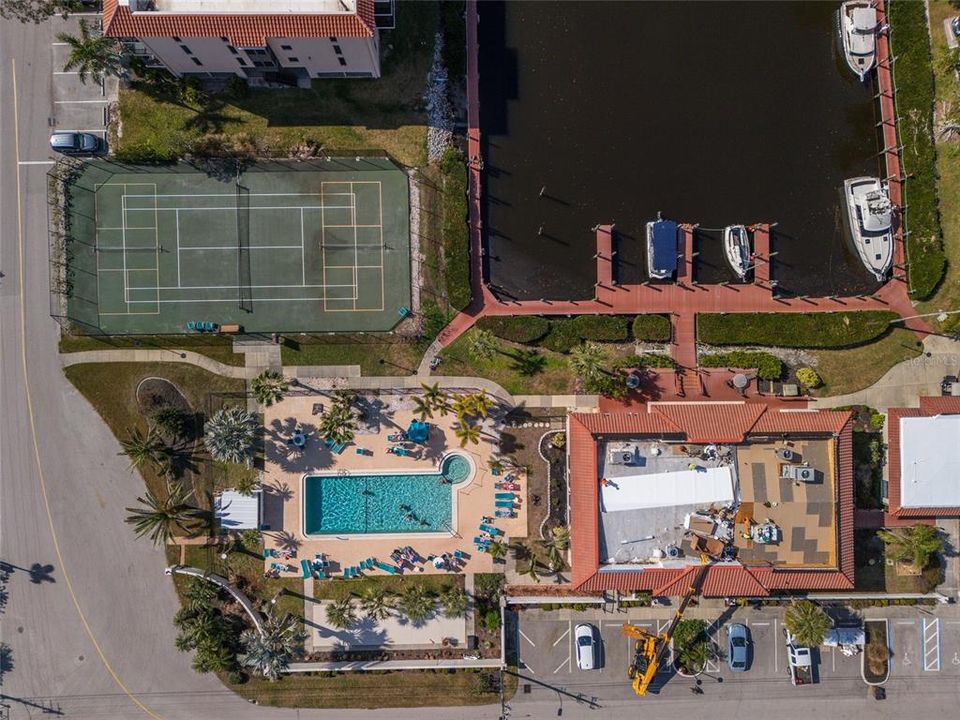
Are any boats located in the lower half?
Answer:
No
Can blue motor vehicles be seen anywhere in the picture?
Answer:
Yes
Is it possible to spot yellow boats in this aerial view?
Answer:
No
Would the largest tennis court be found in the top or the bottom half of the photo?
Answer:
top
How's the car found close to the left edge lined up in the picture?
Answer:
from side to side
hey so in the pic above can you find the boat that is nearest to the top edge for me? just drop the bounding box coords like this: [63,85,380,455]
[832,0,878,82]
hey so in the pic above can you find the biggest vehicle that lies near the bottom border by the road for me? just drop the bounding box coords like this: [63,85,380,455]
[610,541,713,696]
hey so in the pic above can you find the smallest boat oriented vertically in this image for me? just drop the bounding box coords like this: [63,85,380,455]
[726,224,753,281]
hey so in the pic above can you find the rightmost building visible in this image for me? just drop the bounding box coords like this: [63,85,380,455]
[880,396,960,518]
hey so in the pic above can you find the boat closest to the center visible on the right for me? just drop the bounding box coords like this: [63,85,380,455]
[647,216,681,279]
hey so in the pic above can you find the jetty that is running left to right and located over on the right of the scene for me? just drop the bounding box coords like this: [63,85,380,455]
[501,278,933,340]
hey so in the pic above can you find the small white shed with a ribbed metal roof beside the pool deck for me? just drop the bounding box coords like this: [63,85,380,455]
[214,489,264,530]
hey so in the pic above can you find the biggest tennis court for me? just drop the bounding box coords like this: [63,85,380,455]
[67,159,411,333]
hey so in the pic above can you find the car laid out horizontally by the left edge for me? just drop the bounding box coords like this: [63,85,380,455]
[47,128,100,153]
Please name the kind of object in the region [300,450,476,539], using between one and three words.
swimming pool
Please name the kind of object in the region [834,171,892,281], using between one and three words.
boat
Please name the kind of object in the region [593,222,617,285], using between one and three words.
pier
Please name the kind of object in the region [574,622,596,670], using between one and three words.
car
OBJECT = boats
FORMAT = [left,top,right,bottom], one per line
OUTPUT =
[647,216,681,279]
[834,171,892,281]
[832,0,878,82]
[726,224,753,281]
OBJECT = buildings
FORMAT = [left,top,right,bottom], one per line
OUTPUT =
[102,0,404,88]
[880,396,960,518]
[214,489,264,530]
[568,401,855,597]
